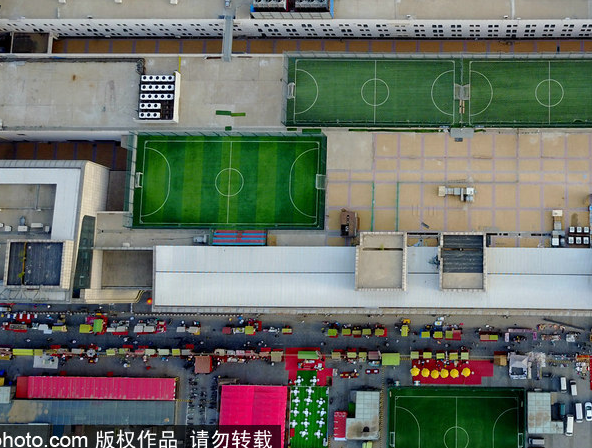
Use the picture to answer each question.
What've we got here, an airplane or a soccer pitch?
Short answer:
soccer pitch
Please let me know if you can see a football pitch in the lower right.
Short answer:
Yes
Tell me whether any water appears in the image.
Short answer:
No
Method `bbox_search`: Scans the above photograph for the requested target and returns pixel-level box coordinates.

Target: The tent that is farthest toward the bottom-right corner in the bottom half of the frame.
[508,352,529,378]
